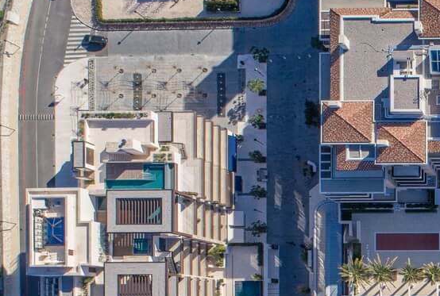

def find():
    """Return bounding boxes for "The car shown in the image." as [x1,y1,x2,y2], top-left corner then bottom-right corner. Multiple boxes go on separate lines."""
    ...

[80,32,107,46]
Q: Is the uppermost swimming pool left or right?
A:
left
